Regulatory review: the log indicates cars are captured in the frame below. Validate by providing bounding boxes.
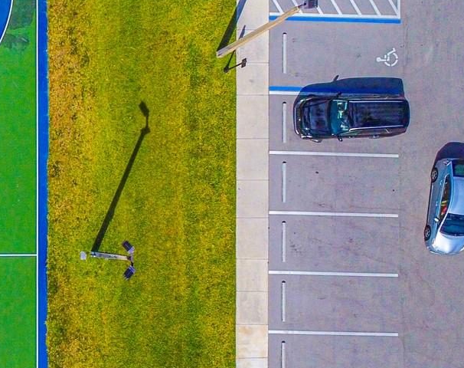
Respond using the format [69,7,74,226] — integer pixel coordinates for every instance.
[426,158,464,254]
[292,93,407,143]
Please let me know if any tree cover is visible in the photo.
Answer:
No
